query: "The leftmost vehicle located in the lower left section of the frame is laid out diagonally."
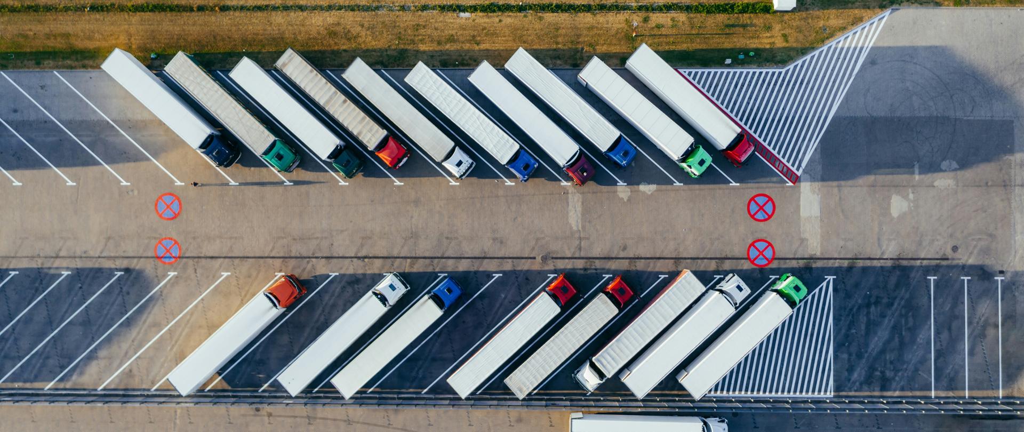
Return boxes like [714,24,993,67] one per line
[168,274,307,397]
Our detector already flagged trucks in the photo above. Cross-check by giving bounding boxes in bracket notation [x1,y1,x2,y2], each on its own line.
[448,274,579,397]
[620,274,752,398]
[506,48,638,169]
[570,411,727,432]
[164,51,303,174]
[168,274,307,397]
[405,62,539,182]
[576,56,712,175]
[274,47,410,169]
[331,276,464,399]
[676,276,809,399]
[342,58,476,180]
[100,47,242,169]
[468,61,597,185]
[505,276,636,399]
[228,56,365,179]
[574,270,705,393]
[278,271,411,396]
[624,44,757,166]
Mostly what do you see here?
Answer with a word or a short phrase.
paved ground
